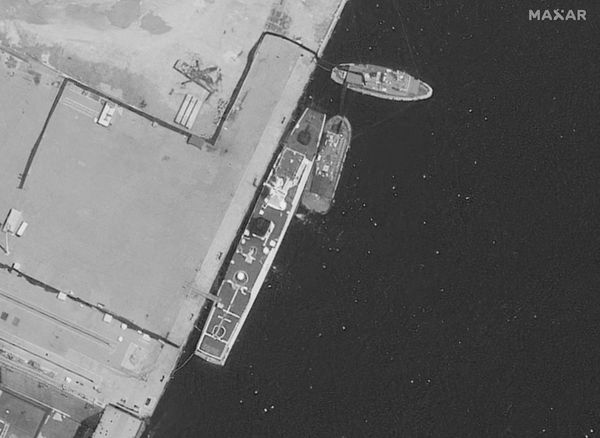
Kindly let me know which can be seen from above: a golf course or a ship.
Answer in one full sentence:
Looking from above, you can make out a ship.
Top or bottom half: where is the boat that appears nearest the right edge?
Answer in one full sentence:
The boat that appears nearest the right edge is in the top half of the image.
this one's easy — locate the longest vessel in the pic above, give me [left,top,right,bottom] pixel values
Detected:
[195,107,326,366]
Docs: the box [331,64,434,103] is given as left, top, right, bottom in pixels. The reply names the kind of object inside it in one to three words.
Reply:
boat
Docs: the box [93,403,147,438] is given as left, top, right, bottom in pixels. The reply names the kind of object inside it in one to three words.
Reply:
building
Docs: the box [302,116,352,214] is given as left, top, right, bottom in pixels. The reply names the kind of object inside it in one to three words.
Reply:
boat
